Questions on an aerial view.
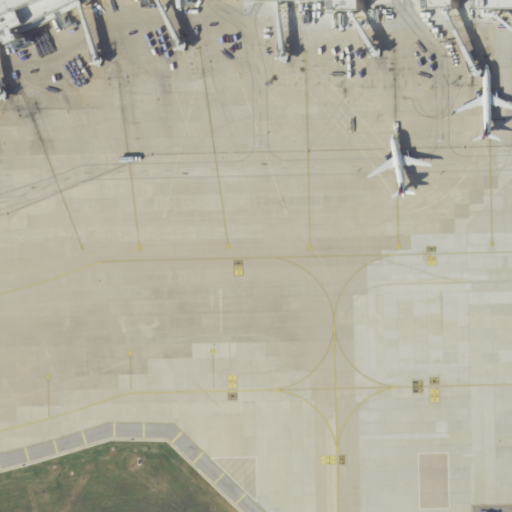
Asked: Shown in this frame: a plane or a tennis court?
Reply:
plane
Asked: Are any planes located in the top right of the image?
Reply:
Yes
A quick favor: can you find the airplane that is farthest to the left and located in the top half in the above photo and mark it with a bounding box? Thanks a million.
[368,134,432,198]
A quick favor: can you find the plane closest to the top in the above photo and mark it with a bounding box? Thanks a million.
[452,65,512,141]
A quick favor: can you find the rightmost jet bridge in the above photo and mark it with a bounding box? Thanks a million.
[480,10,512,33]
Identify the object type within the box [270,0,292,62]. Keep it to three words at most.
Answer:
jet bridge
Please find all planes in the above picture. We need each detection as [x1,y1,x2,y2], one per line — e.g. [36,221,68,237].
[368,134,432,198]
[452,65,512,141]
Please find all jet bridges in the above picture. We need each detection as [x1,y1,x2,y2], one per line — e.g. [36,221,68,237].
[77,0,106,66]
[270,0,292,62]
[441,6,484,76]
[156,0,190,51]
[480,10,512,33]
[347,8,384,56]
